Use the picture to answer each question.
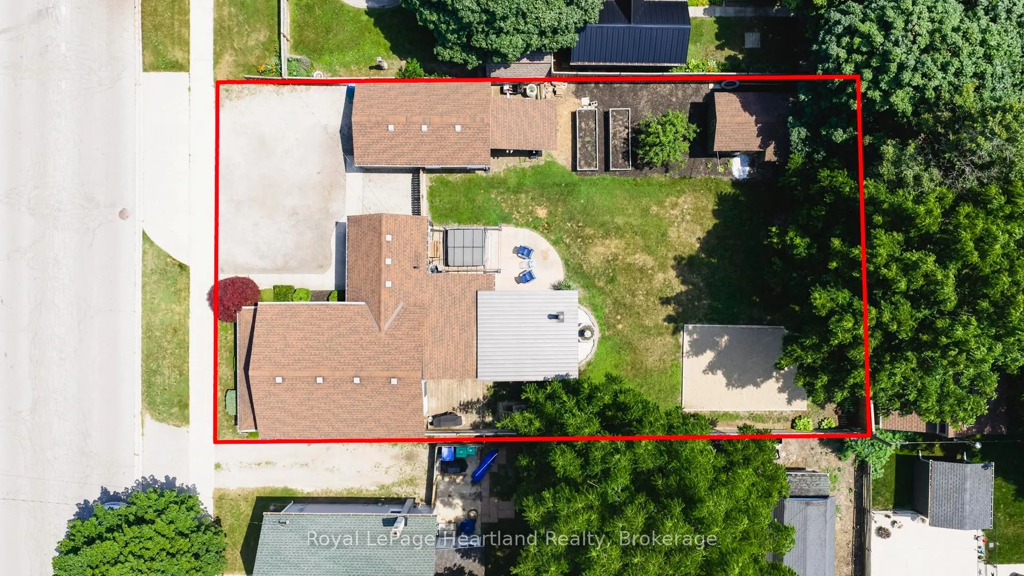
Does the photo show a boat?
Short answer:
Yes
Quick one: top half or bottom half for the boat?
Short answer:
bottom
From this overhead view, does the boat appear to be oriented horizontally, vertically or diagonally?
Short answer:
diagonally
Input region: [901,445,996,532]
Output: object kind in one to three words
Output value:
shed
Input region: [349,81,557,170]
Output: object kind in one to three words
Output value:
building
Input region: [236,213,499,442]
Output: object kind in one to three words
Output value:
house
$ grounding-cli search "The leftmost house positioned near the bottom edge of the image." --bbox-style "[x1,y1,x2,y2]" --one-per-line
[254,496,437,576]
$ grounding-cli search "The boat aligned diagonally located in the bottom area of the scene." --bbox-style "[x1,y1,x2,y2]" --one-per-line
[472,449,498,481]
